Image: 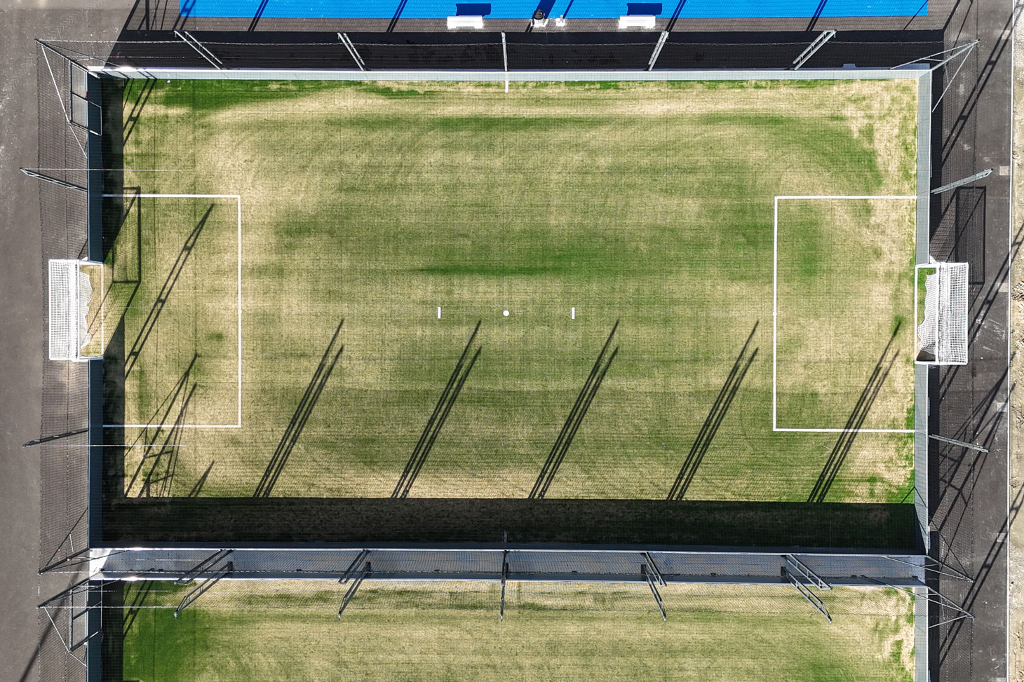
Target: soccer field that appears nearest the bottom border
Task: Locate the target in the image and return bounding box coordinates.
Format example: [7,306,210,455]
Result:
[102,580,913,682]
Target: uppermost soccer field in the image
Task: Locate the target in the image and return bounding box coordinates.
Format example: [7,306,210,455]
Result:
[74,79,944,547]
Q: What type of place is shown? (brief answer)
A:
sports ground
